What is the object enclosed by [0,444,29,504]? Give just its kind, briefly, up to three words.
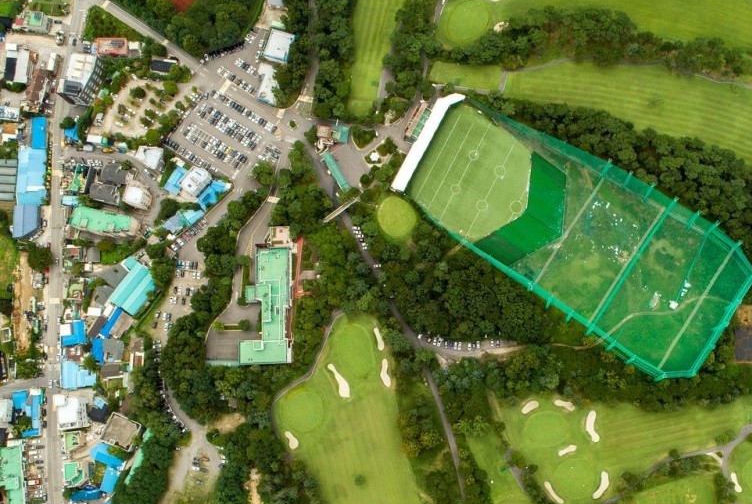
building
